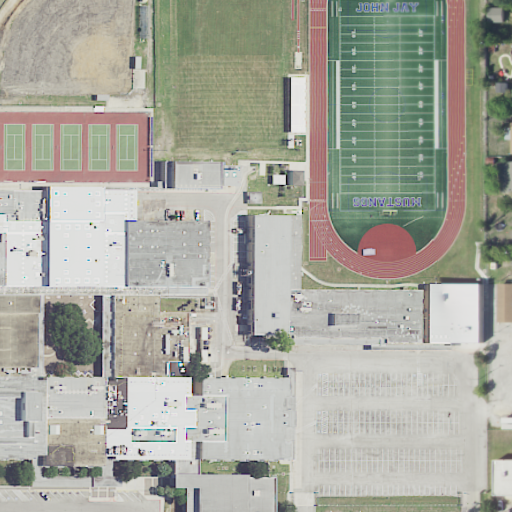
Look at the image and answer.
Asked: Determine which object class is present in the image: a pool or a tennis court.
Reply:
tennis court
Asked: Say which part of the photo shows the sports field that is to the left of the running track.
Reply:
top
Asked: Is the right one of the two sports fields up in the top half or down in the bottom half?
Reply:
top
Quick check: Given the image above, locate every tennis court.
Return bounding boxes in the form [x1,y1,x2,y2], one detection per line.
[116,124,138,171]
[32,124,54,171]
[4,124,26,171]
[60,124,82,171]
[88,124,110,171]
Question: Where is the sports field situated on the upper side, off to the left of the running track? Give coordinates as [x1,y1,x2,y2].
[154,0,288,160]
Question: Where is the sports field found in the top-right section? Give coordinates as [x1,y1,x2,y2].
[328,0,447,259]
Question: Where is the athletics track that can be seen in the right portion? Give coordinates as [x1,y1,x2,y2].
[309,0,466,278]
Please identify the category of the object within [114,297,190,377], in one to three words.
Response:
building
